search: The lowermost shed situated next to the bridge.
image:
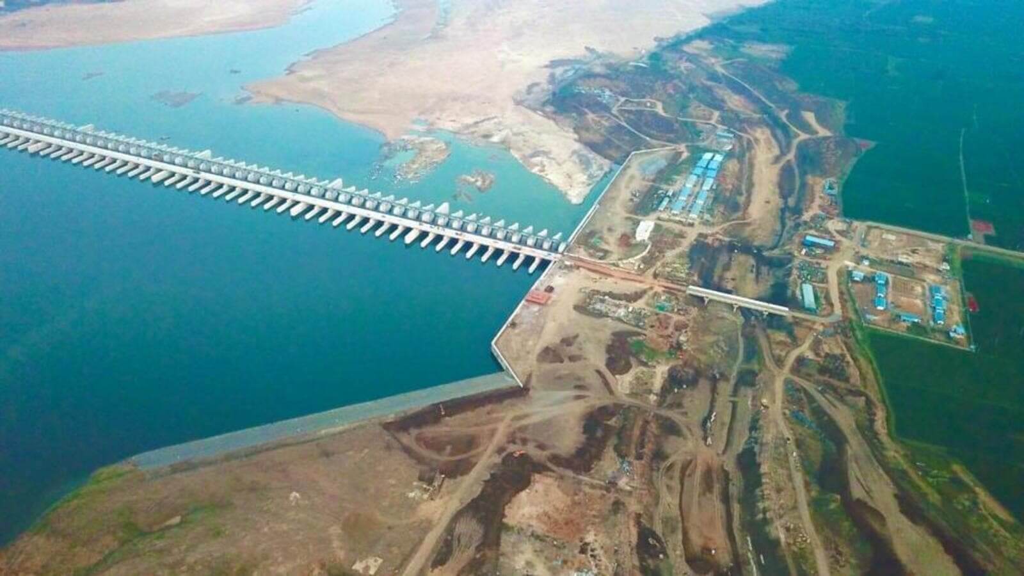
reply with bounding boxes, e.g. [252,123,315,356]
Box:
[798,284,820,313]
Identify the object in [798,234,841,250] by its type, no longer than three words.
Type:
shed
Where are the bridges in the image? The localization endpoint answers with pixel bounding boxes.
[687,287,790,318]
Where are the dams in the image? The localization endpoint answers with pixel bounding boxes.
[0,109,572,275]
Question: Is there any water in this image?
Yes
